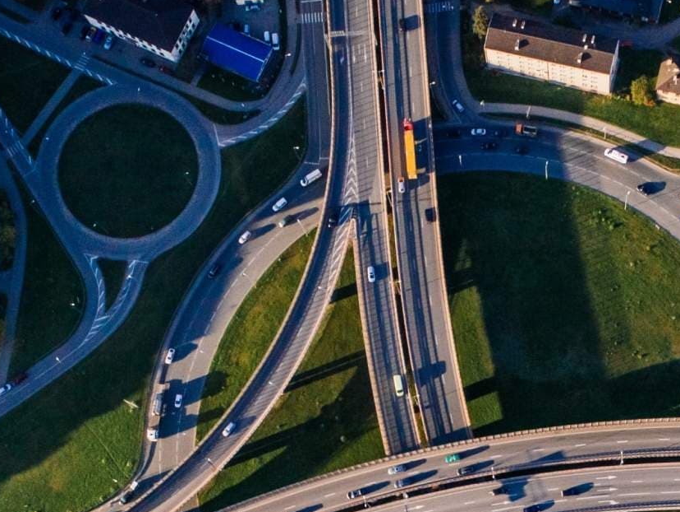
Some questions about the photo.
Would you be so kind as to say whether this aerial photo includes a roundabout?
Yes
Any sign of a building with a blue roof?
Yes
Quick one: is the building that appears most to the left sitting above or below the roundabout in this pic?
above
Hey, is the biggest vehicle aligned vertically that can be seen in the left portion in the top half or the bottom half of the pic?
bottom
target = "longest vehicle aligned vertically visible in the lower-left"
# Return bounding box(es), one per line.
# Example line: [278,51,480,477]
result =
[146,384,165,443]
